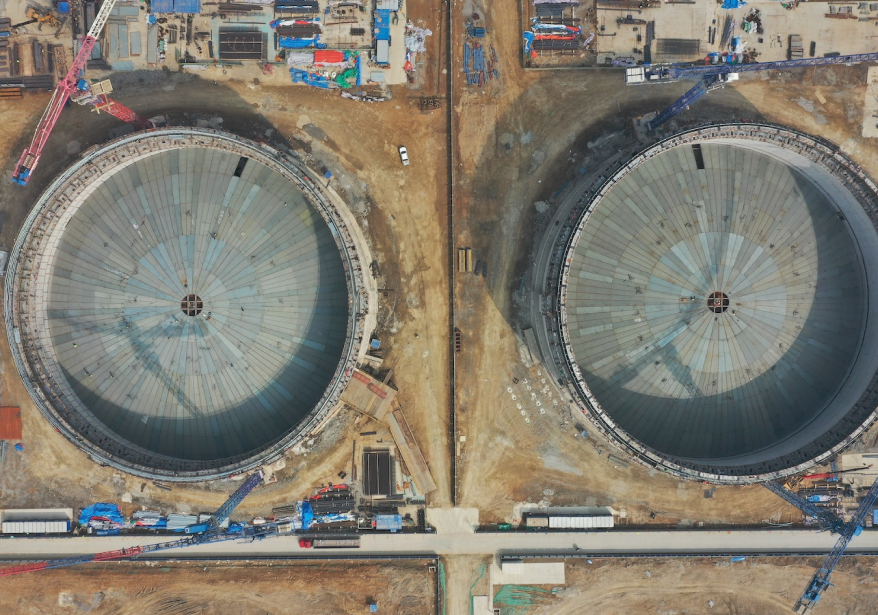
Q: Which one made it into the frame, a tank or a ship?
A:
tank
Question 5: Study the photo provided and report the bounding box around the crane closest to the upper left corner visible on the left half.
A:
[10,3,63,34]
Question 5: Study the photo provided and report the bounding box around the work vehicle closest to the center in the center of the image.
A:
[370,254,382,278]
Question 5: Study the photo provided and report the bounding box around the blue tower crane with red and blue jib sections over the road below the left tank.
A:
[0,463,304,573]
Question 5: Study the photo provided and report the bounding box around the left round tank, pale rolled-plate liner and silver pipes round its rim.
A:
[1,124,376,483]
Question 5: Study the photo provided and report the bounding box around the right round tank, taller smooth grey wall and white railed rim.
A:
[531,121,878,485]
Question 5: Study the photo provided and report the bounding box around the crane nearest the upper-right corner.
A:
[623,53,878,138]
